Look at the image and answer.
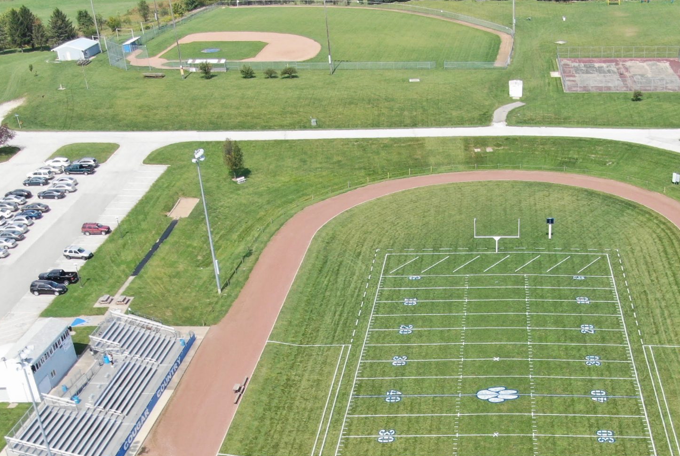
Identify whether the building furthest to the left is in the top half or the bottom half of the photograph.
top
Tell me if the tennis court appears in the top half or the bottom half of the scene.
top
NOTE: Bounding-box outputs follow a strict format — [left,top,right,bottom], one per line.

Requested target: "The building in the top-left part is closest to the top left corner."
[54,37,99,60]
